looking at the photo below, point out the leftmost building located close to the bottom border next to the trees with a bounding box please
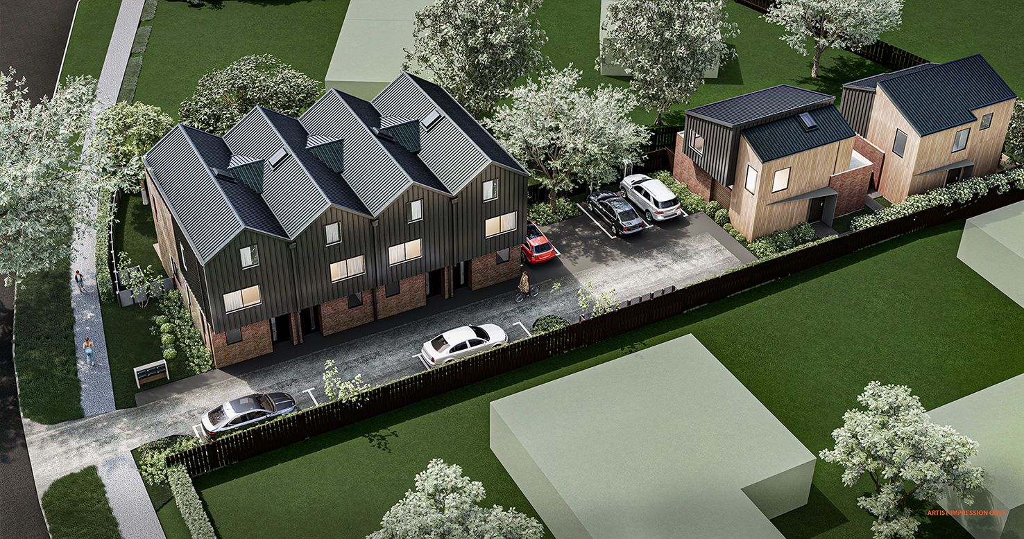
[490,335,817,539]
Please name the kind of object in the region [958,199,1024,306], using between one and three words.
building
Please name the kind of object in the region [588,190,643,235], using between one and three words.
car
